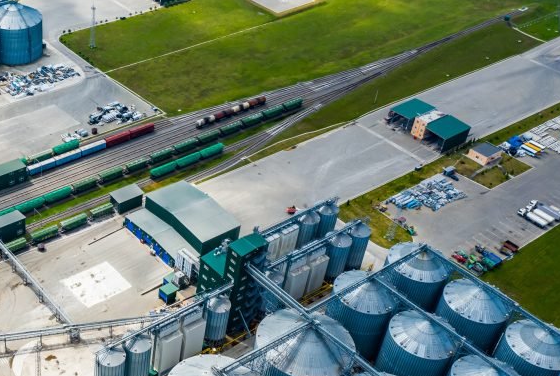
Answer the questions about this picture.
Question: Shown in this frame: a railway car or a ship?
railway car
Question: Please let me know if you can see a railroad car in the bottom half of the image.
Yes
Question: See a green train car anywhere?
Yes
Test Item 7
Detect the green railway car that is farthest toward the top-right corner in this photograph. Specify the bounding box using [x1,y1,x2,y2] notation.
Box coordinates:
[278,98,300,112]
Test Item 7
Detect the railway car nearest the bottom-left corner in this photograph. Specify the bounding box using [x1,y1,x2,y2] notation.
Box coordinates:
[0,236,28,256]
